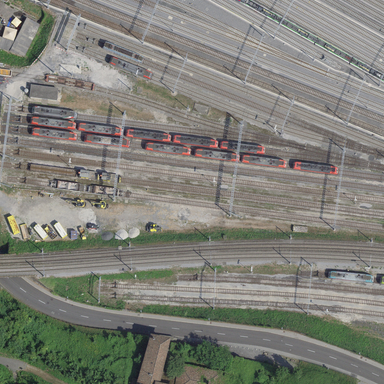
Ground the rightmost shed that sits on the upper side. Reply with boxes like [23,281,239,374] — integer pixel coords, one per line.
[30,82,58,100]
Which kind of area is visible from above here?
rail yard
